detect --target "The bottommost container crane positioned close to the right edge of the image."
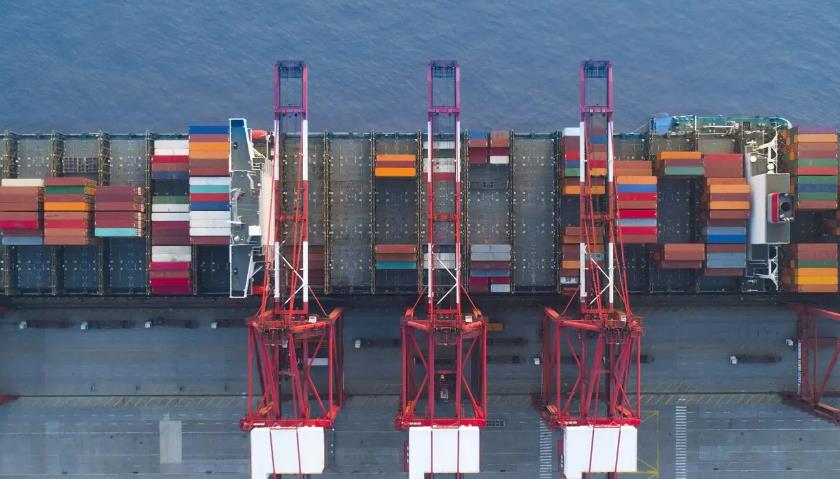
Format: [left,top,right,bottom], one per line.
[781,305,840,422]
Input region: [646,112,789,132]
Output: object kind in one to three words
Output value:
ship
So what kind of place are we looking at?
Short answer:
port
